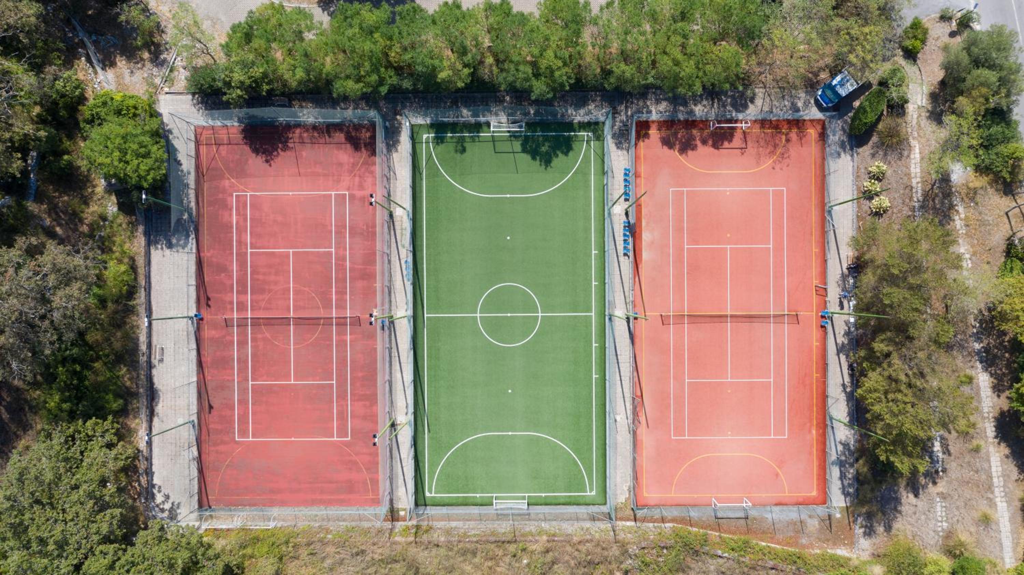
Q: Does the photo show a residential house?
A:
No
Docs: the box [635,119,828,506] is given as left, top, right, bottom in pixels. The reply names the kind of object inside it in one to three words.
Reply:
tennis court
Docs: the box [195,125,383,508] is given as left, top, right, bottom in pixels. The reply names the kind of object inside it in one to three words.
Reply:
tennis court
